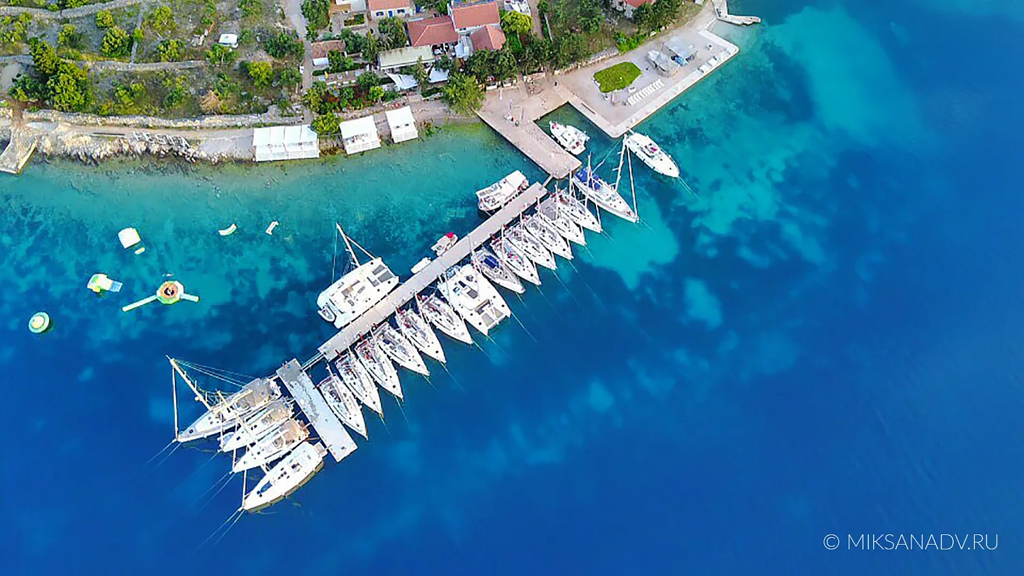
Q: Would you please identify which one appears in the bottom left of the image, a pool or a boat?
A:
boat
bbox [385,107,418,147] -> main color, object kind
white gazebo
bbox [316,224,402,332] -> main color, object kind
white boat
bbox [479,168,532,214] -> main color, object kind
white boat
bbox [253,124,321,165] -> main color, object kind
white gazebo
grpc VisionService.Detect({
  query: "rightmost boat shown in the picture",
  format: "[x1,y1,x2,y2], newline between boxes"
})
[618,126,702,204]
